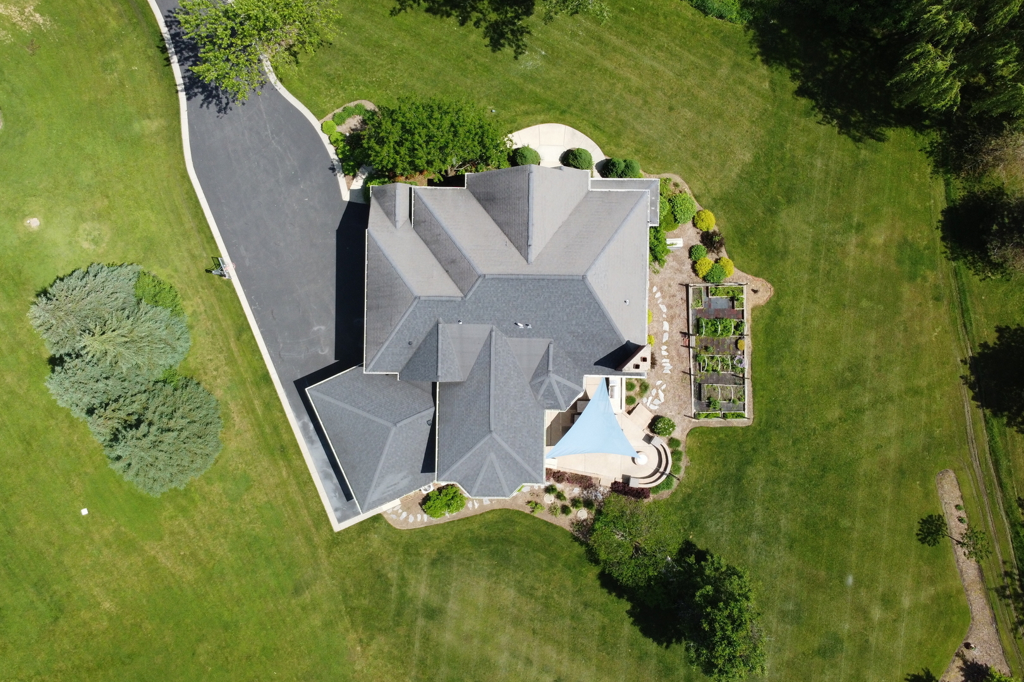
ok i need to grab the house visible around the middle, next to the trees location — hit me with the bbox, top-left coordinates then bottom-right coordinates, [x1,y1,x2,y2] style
[304,163,662,515]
